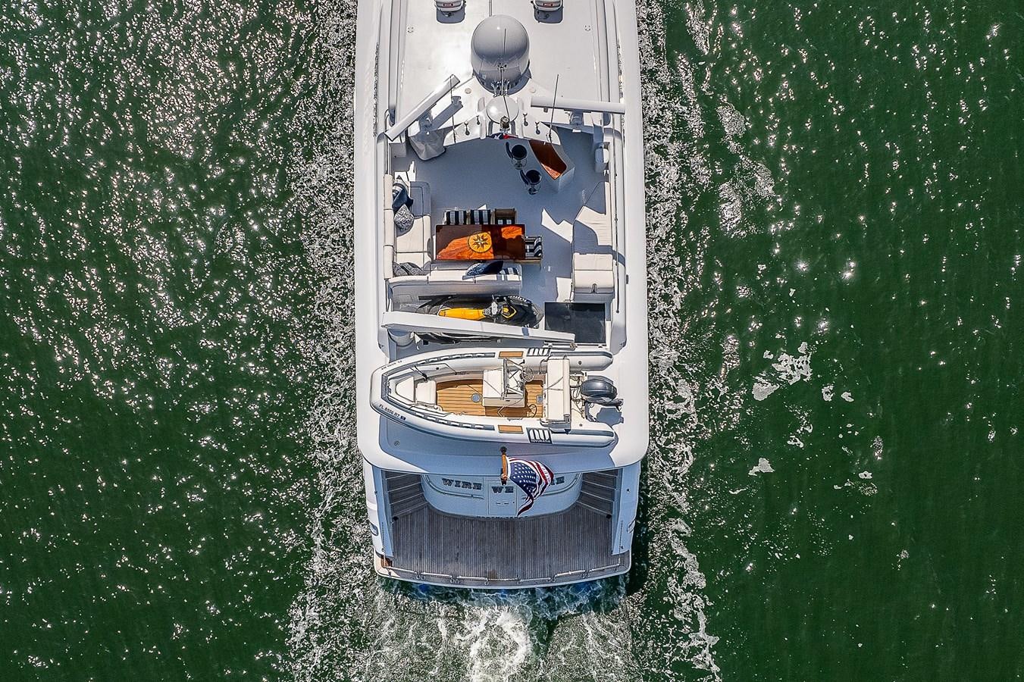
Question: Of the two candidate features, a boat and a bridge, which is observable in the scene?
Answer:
boat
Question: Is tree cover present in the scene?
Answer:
No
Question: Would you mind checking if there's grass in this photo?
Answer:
No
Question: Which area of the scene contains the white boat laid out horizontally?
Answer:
center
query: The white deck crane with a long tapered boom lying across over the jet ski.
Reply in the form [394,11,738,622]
[379,314,575,362]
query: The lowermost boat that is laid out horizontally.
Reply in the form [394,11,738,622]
[366,347,628,449]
